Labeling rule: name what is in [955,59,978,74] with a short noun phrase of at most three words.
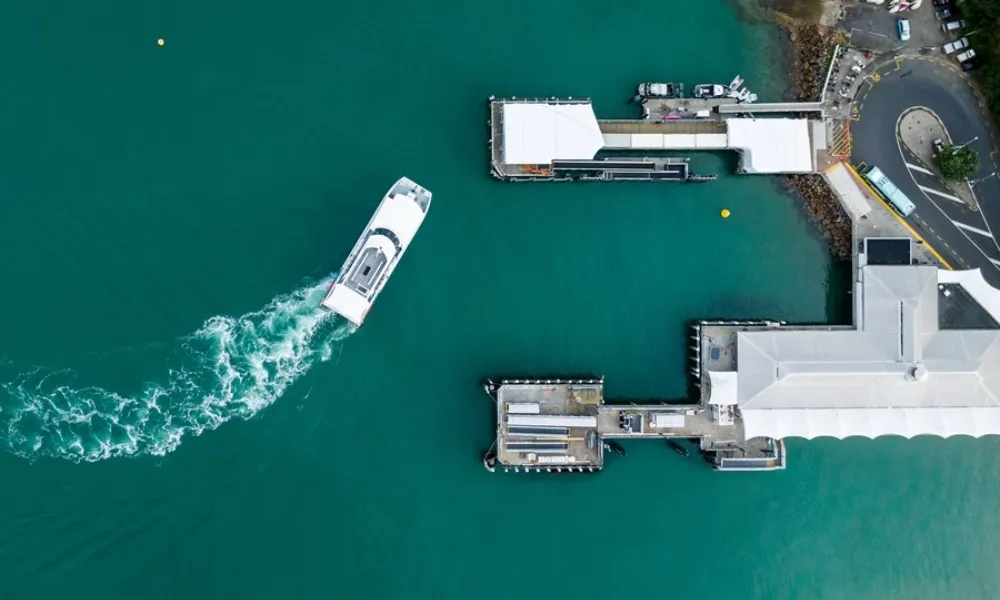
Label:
car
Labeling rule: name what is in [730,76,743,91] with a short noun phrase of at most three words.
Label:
boat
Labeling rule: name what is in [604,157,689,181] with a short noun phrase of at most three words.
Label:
pier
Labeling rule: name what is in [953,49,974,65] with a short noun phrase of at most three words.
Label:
car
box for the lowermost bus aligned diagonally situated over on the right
[860,166,915,217]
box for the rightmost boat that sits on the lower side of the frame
[668,439,688,455]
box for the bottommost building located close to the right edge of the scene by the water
[736,237,1000,439]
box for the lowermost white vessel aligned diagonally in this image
[321,177,433,328]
